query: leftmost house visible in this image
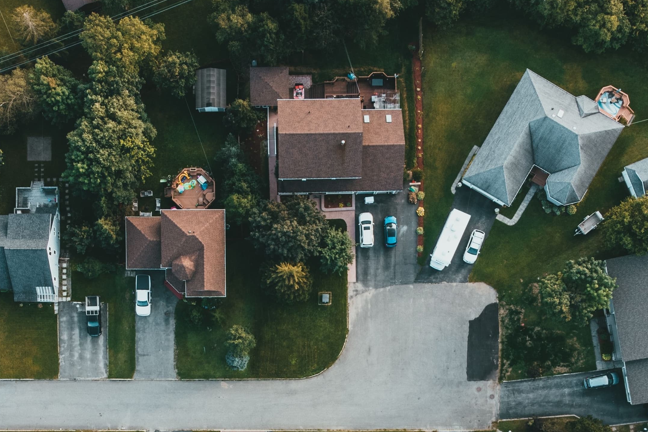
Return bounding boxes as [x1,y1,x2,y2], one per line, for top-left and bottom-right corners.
[0,213,57,303]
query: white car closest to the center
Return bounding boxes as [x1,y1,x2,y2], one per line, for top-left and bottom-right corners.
[358,212,375,248]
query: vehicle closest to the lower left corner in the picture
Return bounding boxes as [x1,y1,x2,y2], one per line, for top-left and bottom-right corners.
[84,293,102,337]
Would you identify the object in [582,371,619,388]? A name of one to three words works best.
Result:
car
